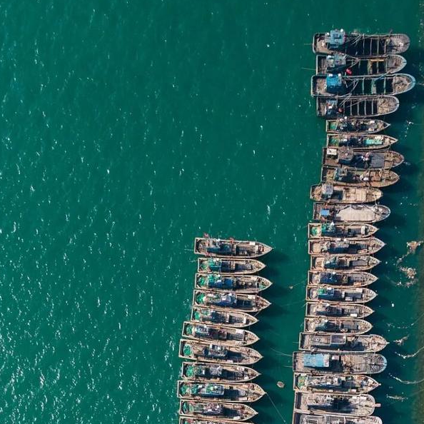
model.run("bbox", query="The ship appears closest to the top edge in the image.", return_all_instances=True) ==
[312,30,409,58]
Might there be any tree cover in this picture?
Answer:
No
